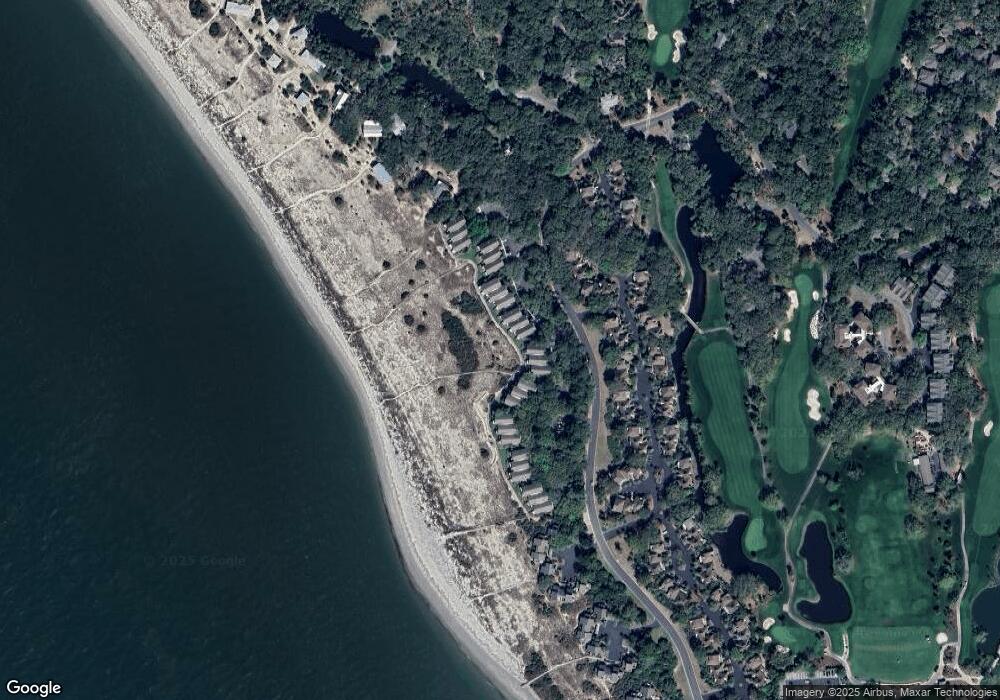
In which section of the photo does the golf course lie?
right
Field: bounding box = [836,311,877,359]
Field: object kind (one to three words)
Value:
house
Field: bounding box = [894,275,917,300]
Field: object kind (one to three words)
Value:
building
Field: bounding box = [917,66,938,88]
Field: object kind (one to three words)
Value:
house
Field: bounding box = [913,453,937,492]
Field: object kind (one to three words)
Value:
building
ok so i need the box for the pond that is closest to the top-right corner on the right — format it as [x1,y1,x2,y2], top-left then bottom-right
[698,121,743,203]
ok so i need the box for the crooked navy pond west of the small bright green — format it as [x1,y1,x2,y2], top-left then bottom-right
[713,515,781,590]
